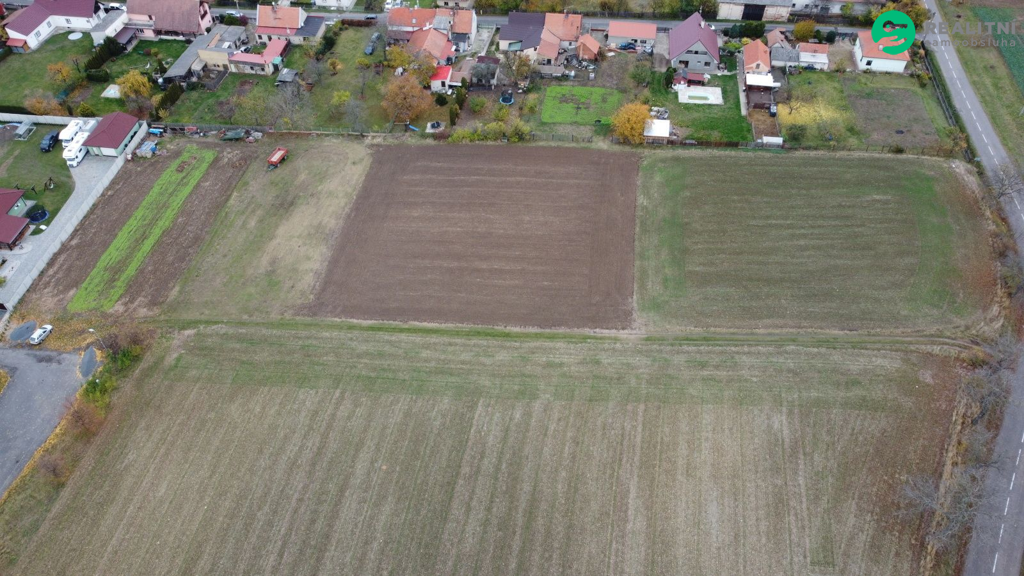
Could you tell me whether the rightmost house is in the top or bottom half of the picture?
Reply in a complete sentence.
The rightmost house is in the top half of the image.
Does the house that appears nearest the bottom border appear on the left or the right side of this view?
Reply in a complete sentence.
The house that appears nearest the bottom border is on the left side of the image.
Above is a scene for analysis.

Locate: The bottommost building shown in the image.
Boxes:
[0,186,33,253]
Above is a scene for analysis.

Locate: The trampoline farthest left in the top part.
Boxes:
[24,204,49,224]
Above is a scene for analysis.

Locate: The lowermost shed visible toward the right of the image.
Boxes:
[643,120,670,145]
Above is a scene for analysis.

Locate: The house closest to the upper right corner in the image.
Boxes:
[854,33,910,75]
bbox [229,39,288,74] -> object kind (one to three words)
shed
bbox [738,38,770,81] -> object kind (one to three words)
house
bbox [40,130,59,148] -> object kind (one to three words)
vehicle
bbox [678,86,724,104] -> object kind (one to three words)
swimming pool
